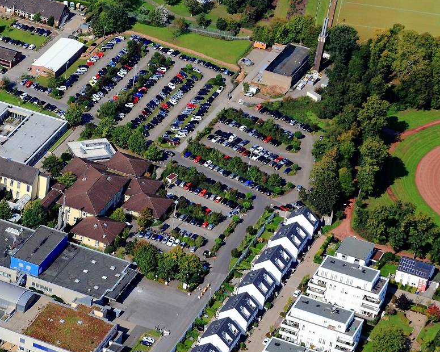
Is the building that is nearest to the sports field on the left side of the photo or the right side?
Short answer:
right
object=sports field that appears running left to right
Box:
[335,0,440,39]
